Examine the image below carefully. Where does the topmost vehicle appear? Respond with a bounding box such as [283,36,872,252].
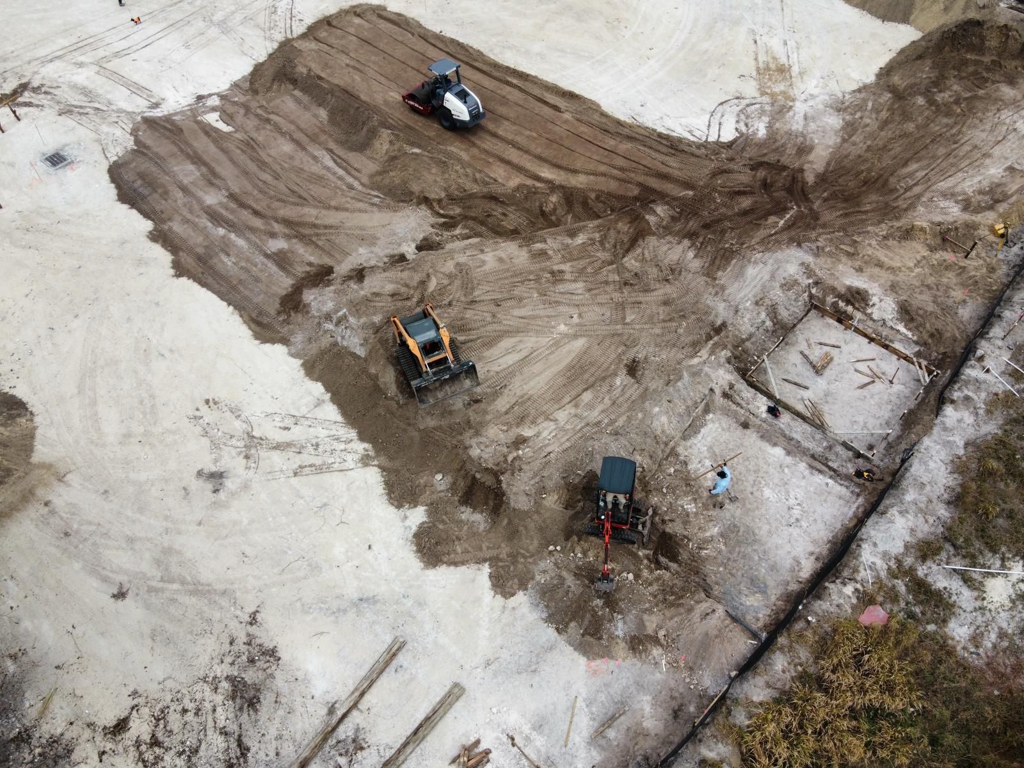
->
[400,59,485,133]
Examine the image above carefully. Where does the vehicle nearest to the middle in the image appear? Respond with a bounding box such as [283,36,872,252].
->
[388,305,480,412]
